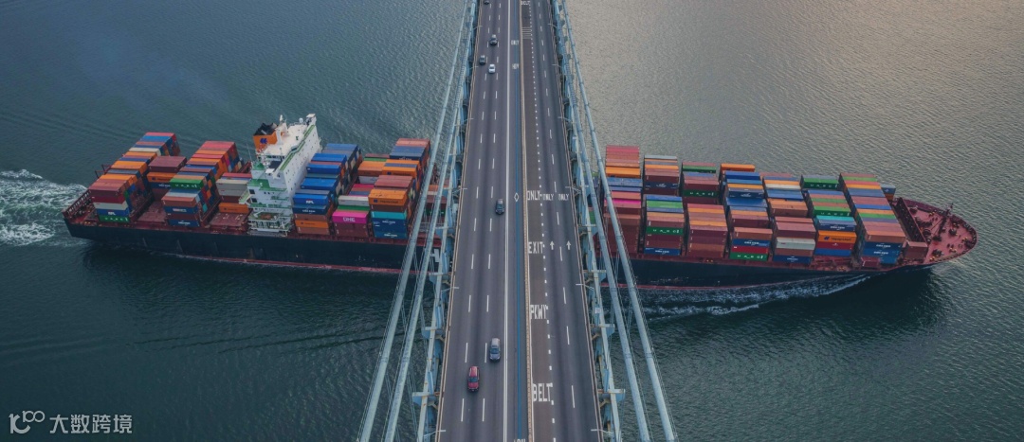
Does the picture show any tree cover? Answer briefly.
No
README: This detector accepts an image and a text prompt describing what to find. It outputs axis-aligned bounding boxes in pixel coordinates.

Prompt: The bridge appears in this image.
[360,0,681,442]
